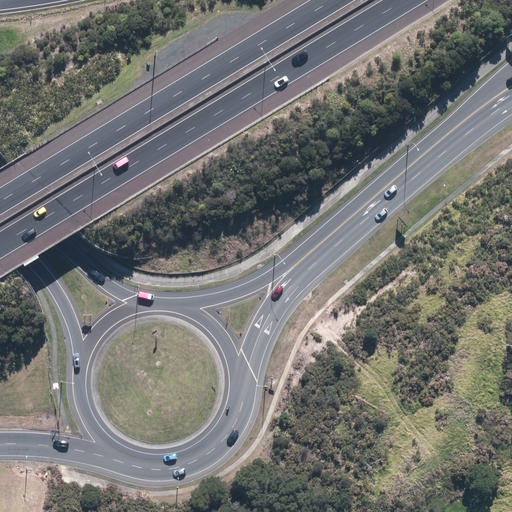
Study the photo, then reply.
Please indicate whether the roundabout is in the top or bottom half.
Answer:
bottom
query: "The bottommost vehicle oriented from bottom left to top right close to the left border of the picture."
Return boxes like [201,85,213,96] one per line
[20,229,36,241]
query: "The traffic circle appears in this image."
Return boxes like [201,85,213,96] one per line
[69,293,247,471]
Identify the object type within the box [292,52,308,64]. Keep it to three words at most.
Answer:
vehicle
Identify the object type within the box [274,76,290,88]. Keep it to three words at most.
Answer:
vehicle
